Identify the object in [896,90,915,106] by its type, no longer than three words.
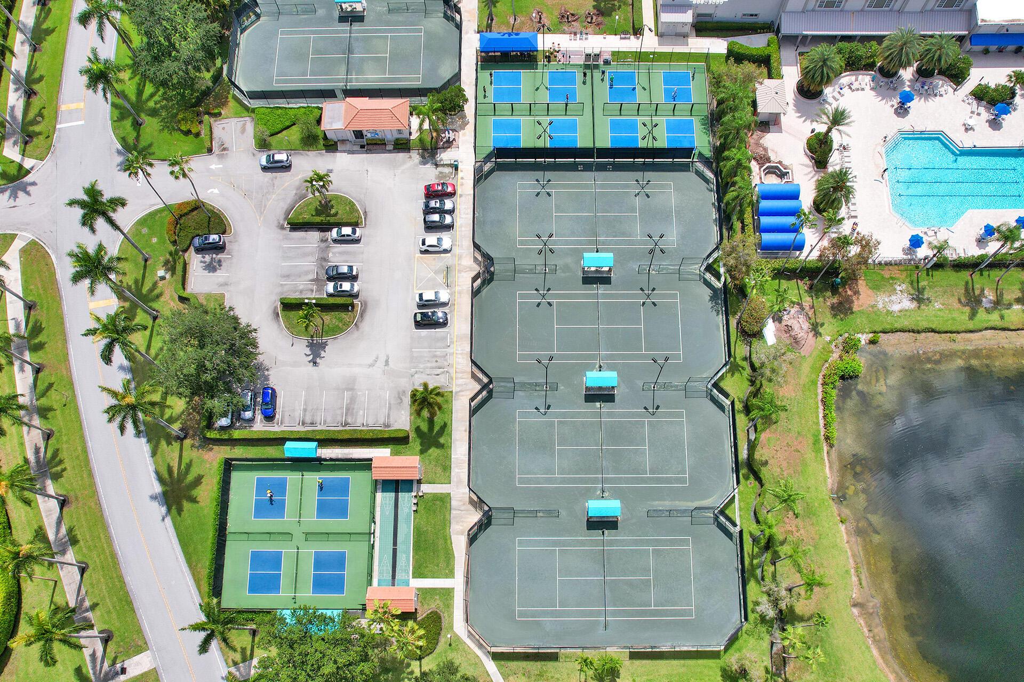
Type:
umbrella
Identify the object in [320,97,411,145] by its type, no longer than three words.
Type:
building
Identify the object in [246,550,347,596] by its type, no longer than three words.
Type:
sports court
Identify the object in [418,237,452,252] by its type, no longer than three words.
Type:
car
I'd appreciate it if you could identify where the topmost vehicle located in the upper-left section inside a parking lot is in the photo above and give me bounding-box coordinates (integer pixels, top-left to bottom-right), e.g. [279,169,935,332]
[259,155,289,170]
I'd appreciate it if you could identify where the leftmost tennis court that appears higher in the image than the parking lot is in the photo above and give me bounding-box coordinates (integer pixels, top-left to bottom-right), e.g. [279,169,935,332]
[236,0,458,106]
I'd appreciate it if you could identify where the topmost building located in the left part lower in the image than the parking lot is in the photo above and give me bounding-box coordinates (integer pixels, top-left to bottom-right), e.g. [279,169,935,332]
[371,456,424,481]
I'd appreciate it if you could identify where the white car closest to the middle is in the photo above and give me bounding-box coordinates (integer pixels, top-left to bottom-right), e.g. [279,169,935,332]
[415,292,450,307]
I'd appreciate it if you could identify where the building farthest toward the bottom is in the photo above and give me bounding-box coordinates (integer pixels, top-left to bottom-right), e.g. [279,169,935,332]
[365,587,420,612]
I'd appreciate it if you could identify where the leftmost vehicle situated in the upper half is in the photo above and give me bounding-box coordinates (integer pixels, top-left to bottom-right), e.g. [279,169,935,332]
[192,237,225,252]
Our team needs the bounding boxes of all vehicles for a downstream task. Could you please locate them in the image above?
[325,283,359,299]
[258,389,276,419]
[238,391,255,421]
[325,267,358,282]
[215,410,231,427]
[422,200,454,215]
[424,183,455,199]
[259,155,289,170]
[418,237,452,252]
[415,292,450,307]
[414,312,447,328]
[423,214,453,230]
[192,237,225,252]
[330,229,361,244]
